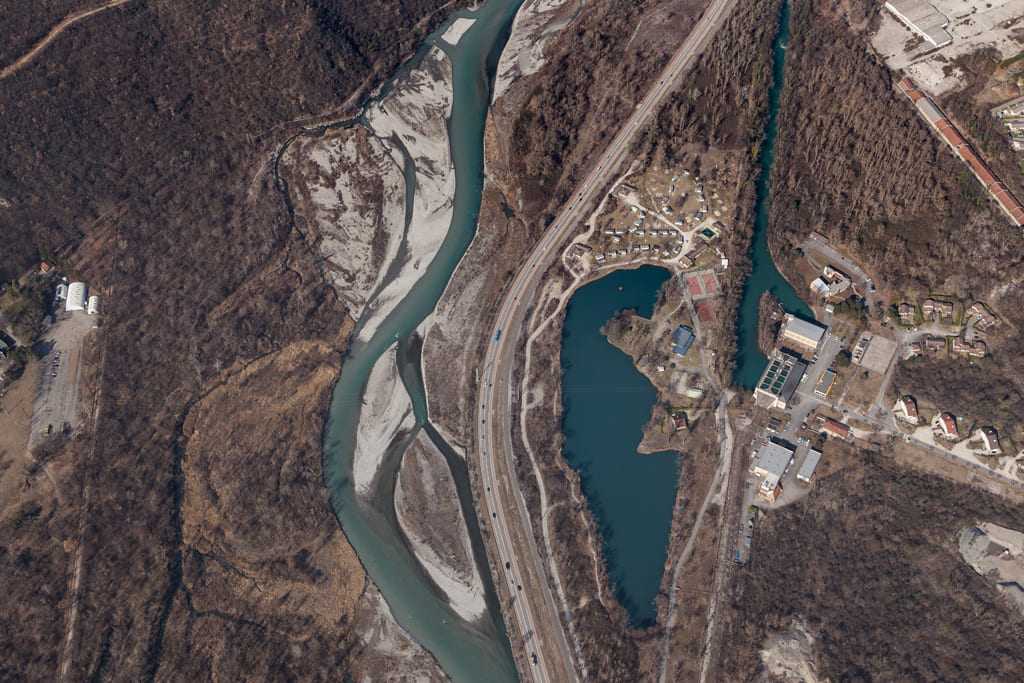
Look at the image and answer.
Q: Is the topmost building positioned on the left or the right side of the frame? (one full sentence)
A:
The topmost building appears in the right half of the scene.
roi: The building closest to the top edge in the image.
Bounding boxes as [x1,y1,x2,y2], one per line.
[885,0,953,54]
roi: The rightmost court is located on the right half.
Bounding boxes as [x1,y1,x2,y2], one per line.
[861,335,898,372]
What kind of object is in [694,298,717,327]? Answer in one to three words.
tennis court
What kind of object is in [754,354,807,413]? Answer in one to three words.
building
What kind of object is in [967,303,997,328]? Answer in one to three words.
house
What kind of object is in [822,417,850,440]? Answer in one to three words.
house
